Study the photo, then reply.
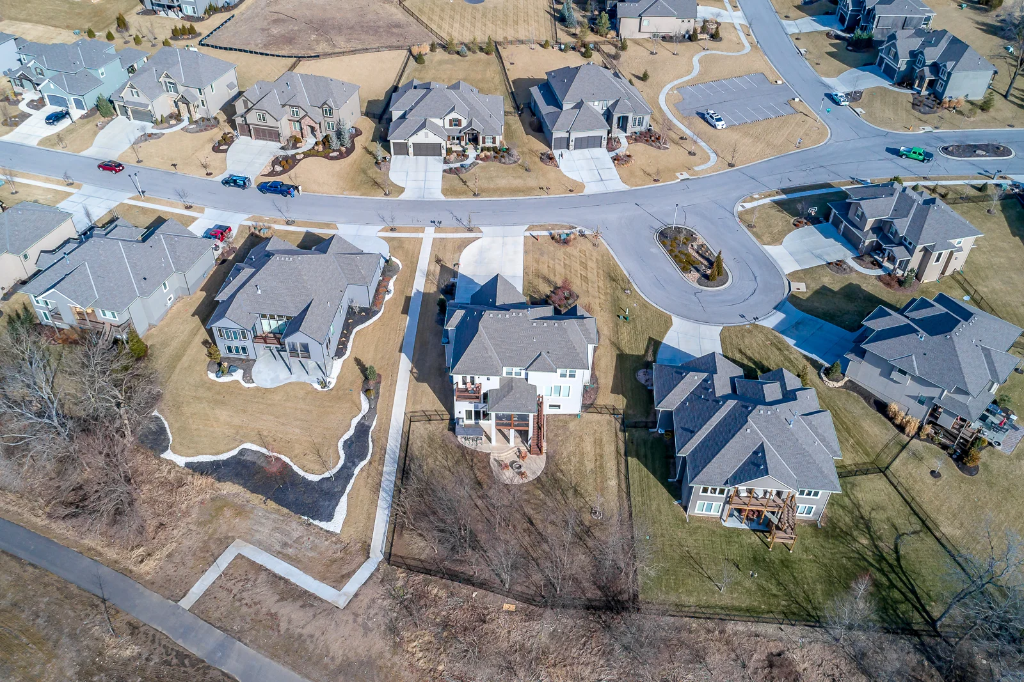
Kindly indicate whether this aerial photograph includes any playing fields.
No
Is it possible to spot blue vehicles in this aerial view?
Yes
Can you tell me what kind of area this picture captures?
residential area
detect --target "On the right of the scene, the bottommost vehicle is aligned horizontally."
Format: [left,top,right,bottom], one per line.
[899,145,936,160]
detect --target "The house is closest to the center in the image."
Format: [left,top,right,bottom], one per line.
[440,272,599,453]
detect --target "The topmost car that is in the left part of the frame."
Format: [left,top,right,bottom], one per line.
[43,105,71,122]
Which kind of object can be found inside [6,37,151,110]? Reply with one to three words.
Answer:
house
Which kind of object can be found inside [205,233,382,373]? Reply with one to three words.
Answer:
house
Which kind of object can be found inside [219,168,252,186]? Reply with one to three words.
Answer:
vehicle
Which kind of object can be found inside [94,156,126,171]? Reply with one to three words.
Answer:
car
